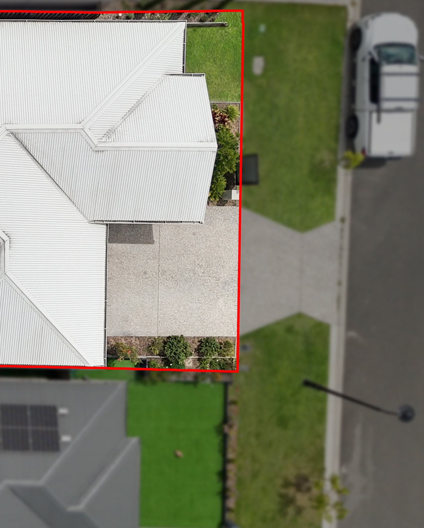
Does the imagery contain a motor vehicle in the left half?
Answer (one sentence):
No, no motor vehicle is visible in the left half.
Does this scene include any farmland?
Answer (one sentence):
No, no farmland is visible.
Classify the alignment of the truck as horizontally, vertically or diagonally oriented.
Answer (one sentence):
The truck is oriented vertically.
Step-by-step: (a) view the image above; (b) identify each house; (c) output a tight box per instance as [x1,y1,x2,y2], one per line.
[0,19,218,369]
[0,376,142,528]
